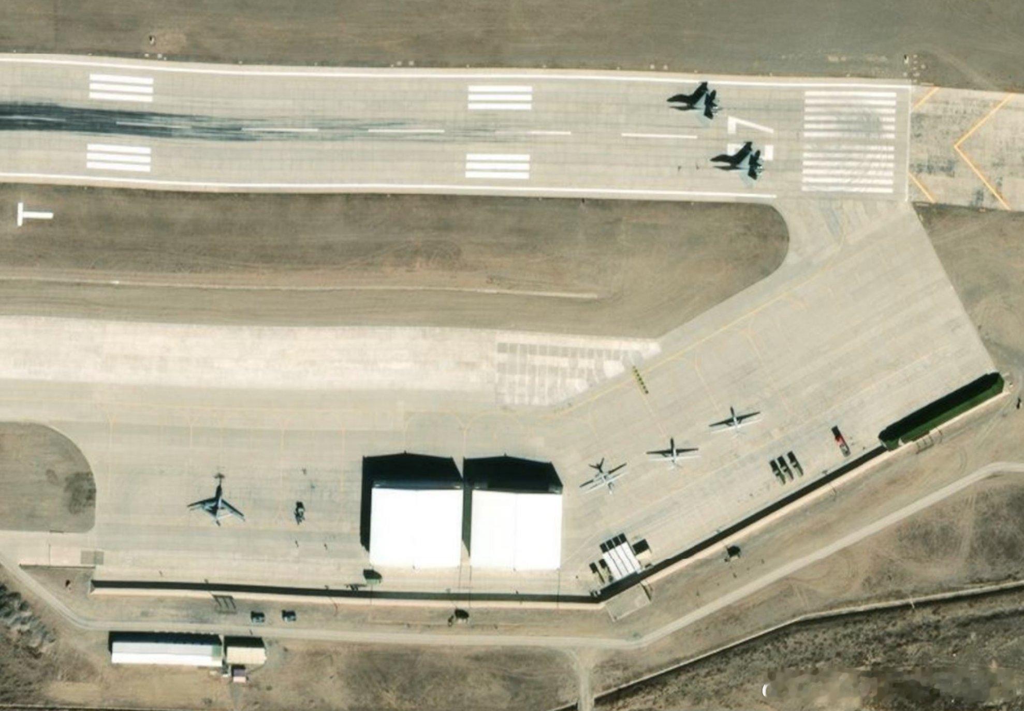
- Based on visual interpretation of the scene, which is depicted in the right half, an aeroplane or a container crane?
aeroplane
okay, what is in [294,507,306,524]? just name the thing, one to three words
vehicle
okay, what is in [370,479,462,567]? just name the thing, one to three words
hangar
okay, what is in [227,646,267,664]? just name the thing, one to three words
building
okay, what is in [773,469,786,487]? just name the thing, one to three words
vehicle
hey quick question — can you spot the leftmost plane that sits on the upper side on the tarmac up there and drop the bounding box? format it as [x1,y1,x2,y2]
[670,90,722,127]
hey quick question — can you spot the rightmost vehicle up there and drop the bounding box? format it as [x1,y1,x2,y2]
[834,436,851,458]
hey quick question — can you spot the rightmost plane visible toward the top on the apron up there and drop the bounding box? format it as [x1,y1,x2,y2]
[713,150,765,187]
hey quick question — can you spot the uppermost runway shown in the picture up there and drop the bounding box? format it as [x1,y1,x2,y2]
[0,53,1024,211]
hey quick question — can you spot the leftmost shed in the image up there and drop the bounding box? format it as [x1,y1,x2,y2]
[112,640,222,666]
